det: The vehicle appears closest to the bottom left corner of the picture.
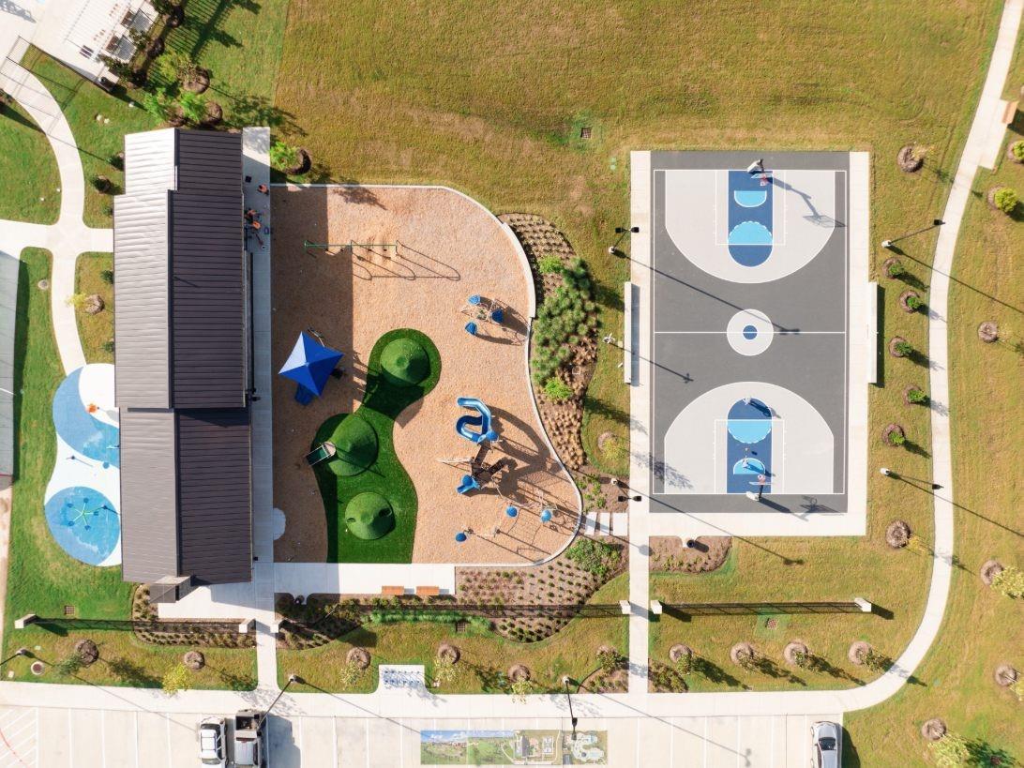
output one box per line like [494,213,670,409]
[196,719,229,768]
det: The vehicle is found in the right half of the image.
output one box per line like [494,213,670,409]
[810,721,843,768]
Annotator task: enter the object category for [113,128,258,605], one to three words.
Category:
building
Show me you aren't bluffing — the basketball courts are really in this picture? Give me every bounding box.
[630,150,869,536]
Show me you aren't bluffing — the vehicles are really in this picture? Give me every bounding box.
[233,712,267,768]
[196,719,229,768]
[810,721,843,768]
